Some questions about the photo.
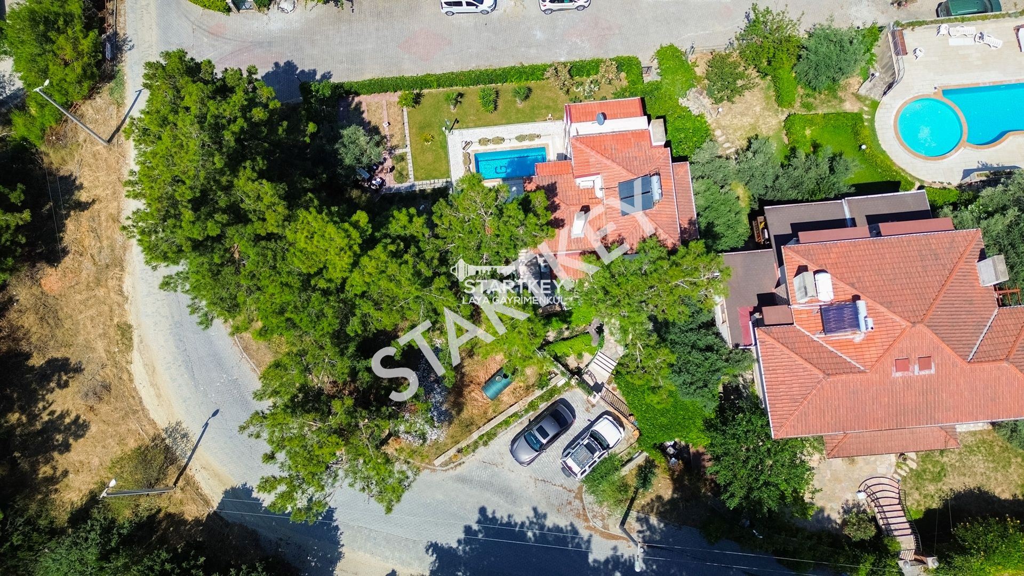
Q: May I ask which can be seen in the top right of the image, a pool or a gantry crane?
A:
pool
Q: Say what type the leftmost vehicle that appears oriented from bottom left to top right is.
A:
car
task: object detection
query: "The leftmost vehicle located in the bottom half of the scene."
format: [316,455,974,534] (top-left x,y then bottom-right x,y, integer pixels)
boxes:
[509,396,578,468]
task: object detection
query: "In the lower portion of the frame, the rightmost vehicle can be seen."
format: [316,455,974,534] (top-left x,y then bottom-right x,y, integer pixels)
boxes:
[559,413,628,485]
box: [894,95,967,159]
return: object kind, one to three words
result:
swimming pool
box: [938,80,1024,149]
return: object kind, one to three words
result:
swimming pool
